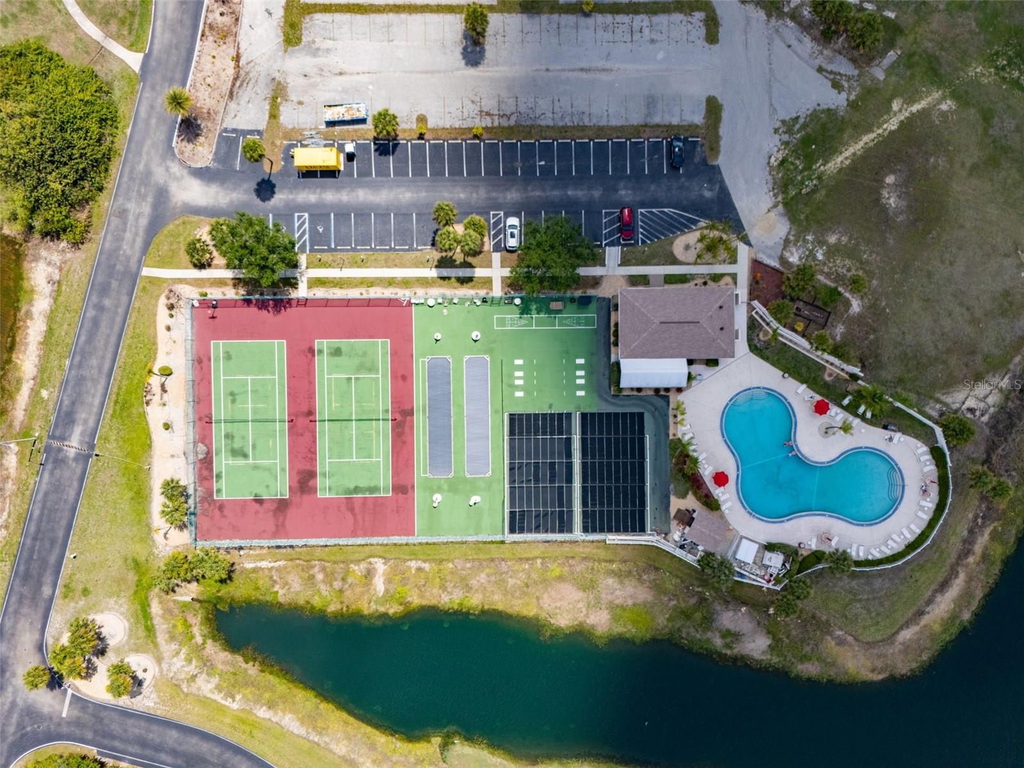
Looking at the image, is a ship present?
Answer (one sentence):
No, I can see no ship in this picture.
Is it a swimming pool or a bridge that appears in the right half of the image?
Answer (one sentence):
You can see a swimming pool in the right half of the image.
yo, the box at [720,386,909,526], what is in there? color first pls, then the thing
blue swimming pool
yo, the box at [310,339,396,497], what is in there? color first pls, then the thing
green tennis court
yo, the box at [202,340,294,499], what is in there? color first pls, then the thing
green tennis court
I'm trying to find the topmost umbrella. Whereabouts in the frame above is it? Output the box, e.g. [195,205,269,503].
[813,399,830,415]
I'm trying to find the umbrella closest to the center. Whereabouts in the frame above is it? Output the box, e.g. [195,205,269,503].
[713,471,729,487]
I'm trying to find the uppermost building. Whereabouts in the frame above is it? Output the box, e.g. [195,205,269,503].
[619,288,741,358]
